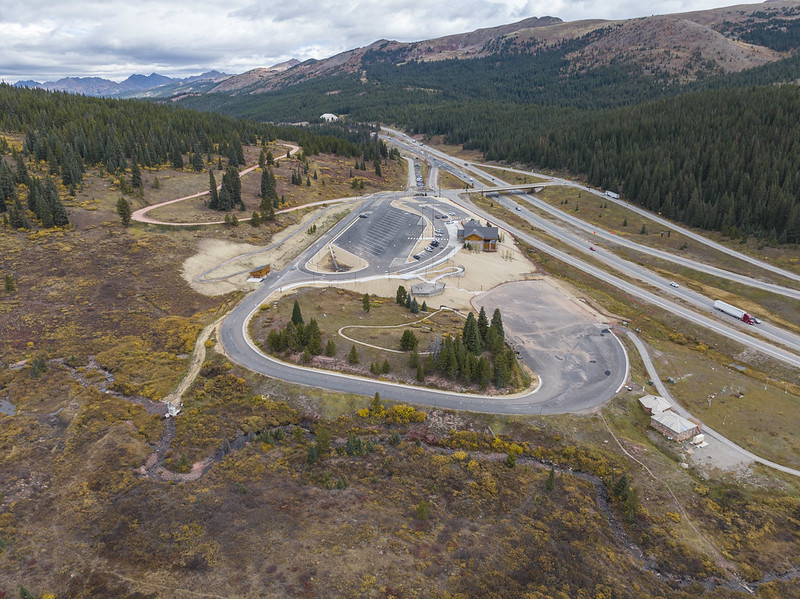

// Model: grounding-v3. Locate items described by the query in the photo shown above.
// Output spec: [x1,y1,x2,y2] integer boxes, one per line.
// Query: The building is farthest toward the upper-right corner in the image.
[452,219,498,251]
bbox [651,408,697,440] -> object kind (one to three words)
building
